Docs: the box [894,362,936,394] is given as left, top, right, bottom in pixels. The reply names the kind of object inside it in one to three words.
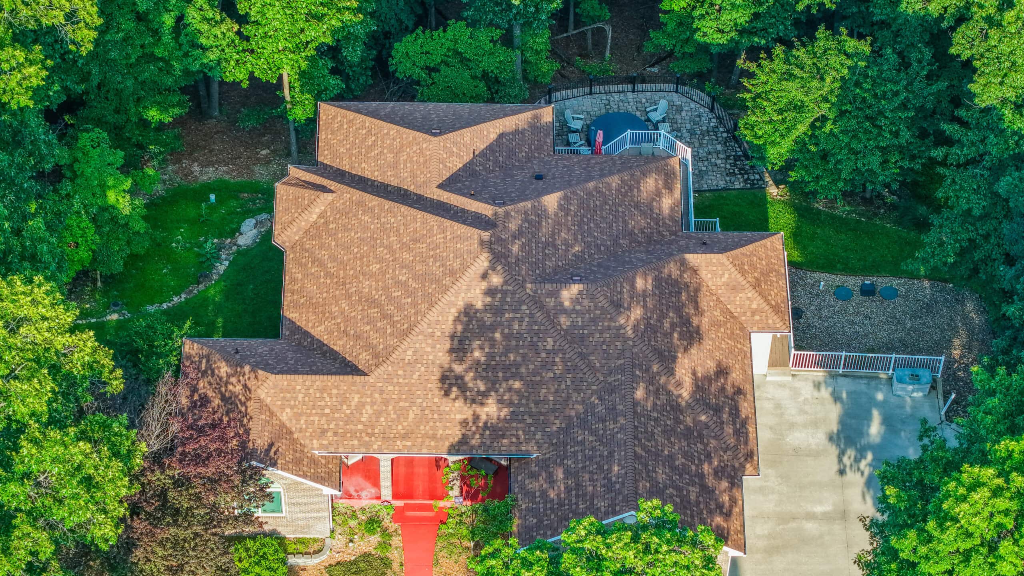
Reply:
shed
